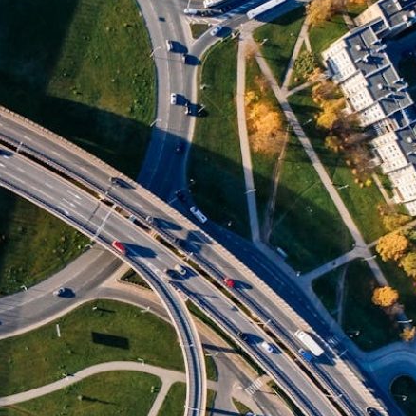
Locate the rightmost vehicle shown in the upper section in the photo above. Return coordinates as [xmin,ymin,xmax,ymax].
[247,0,285,20]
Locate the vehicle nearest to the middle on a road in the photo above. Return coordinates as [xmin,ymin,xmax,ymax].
[190,206,207,222]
